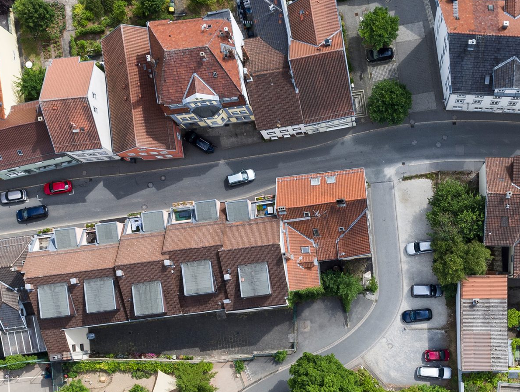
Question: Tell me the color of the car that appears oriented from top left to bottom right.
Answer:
black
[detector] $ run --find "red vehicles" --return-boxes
[424,348,450,363]
[45,180,74,194]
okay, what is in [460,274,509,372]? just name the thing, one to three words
building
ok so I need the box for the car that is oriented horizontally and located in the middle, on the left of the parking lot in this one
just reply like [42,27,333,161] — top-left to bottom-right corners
[225,169,257,186]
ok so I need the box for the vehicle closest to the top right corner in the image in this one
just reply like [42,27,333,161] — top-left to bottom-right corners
[366,47,394,62]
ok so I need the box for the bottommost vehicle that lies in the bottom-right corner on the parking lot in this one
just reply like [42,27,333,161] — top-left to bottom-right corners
[417,366,451,379]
